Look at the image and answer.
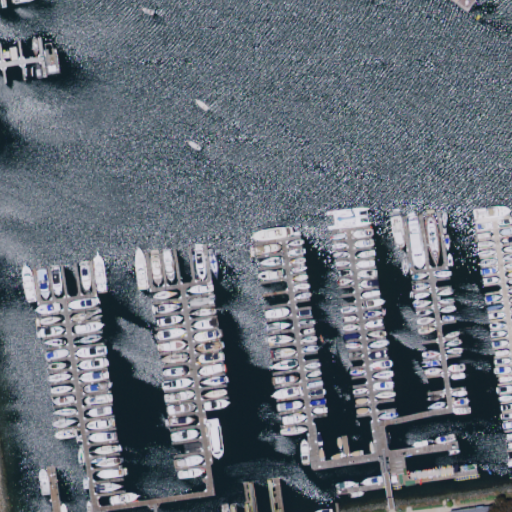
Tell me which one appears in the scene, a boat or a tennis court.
boat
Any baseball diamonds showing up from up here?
No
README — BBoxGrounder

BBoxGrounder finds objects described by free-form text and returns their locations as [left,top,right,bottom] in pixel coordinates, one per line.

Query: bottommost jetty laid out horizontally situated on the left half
[92,492,216,512]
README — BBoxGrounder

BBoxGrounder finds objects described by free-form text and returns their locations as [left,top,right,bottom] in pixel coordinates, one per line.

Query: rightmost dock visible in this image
[474,216,512,470]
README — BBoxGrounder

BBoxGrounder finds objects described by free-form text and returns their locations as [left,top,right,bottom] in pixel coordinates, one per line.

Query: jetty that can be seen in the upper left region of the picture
[0,36,48,84]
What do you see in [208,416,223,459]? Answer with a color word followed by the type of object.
white boat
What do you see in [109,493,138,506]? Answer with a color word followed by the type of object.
white boat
